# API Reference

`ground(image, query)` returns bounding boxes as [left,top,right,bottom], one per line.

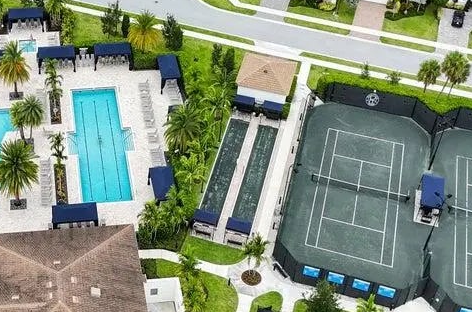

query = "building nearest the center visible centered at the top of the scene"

[236,52,297,111]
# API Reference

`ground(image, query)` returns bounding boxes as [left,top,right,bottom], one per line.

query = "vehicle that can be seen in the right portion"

[453,3,468,26]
